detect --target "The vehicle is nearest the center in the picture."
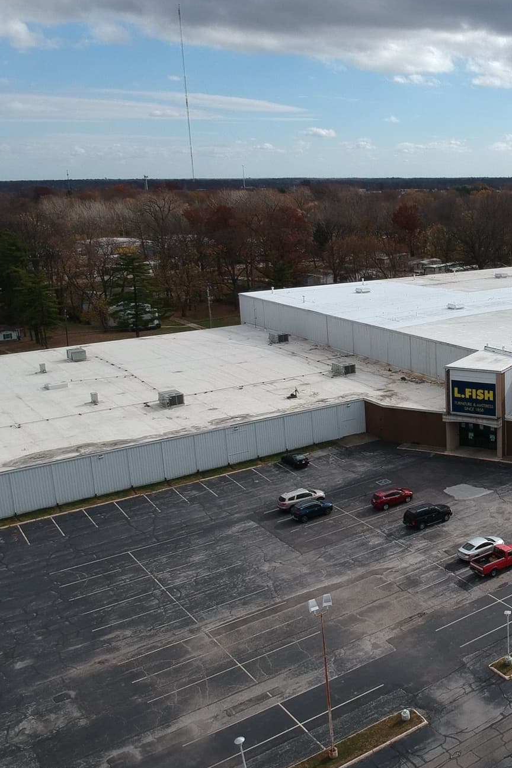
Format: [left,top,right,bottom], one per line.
[280,450,311,467]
